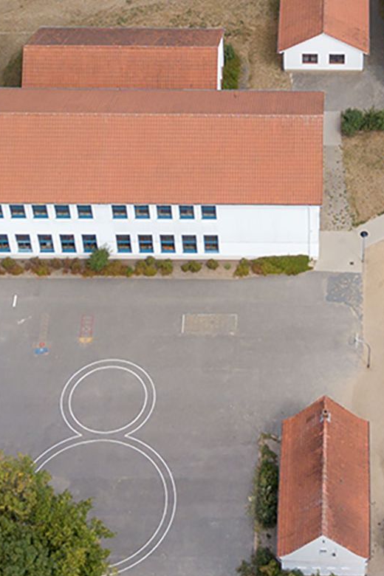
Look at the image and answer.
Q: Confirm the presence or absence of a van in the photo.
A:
No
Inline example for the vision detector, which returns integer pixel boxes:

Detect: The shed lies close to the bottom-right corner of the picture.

[276,399,372,575]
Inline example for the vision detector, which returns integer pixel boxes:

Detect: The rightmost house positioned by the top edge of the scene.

[277,0,370,70]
